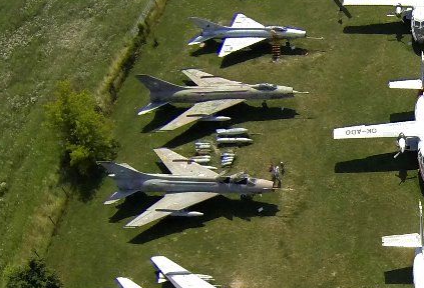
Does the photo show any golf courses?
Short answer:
No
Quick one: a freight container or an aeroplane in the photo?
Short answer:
aeroplane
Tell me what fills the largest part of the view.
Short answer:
grass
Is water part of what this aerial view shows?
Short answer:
No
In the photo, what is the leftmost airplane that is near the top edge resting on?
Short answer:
grass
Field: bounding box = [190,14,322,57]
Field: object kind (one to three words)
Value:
airplane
